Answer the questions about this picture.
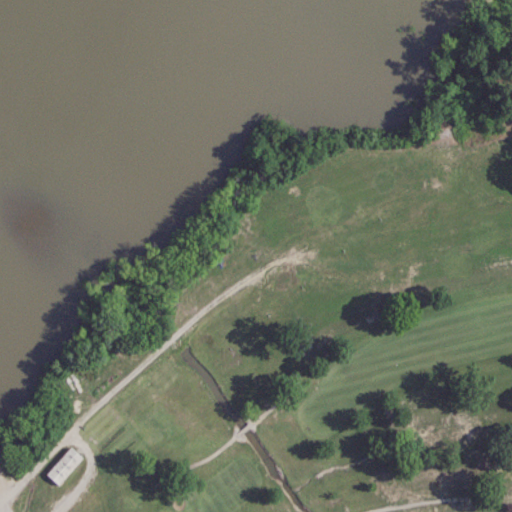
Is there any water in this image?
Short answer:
Yes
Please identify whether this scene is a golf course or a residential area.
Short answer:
golf course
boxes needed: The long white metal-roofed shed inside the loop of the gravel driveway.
[47,448,84,486]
